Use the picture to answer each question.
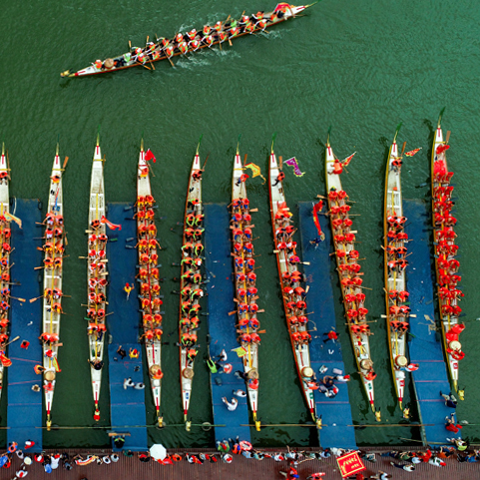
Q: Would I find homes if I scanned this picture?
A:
No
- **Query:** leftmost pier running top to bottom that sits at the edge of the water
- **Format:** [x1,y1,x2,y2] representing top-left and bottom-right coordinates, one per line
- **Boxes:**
[7,198,42,454]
